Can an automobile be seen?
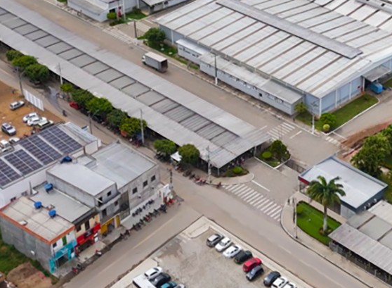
Yes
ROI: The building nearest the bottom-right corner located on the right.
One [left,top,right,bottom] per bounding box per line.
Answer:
[298,153,391,219]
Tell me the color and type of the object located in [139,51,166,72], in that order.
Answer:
gray truck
